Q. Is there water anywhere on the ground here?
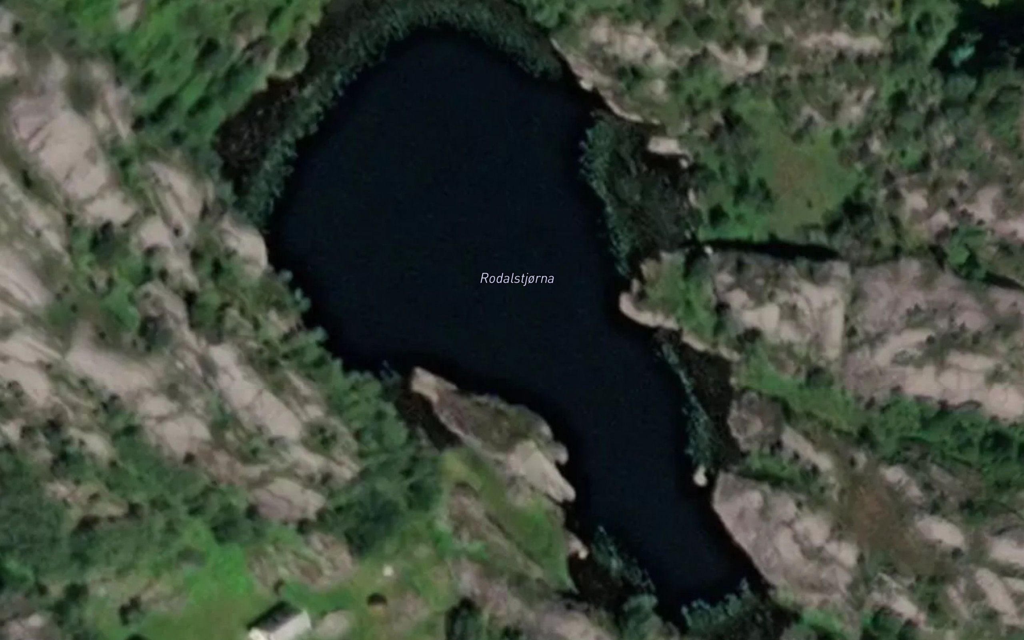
Yes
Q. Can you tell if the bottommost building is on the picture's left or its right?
left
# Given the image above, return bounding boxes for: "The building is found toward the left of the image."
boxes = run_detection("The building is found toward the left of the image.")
[256,604,310,640]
